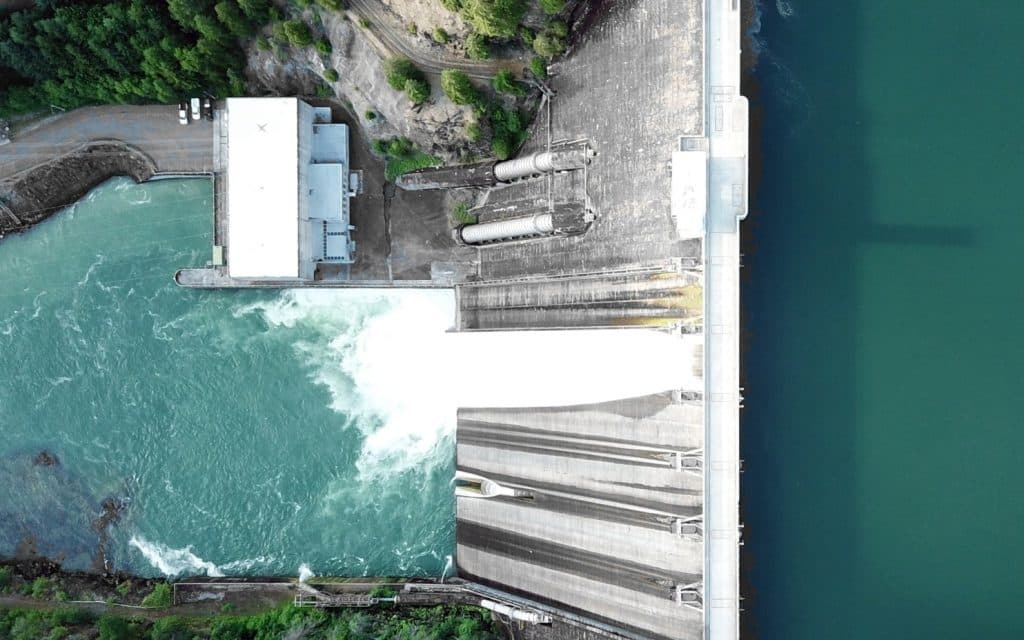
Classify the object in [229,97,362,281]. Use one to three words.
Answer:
building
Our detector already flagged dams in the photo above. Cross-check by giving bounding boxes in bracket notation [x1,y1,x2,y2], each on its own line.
[454,0,748,640]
